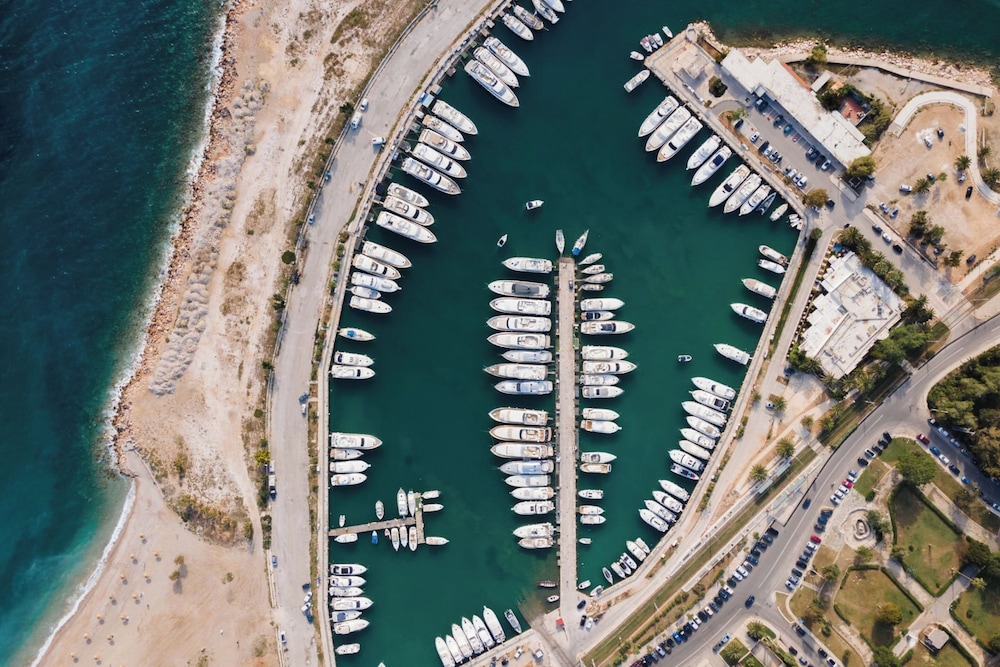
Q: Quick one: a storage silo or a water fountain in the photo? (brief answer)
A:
water fountain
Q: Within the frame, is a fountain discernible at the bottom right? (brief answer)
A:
Yes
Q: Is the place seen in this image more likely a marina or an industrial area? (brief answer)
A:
marina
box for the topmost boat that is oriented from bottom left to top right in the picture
[623,69,650,93]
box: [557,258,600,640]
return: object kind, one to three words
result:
pier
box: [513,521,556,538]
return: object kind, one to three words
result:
boat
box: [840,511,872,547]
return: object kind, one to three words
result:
fountain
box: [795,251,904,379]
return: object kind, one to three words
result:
building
